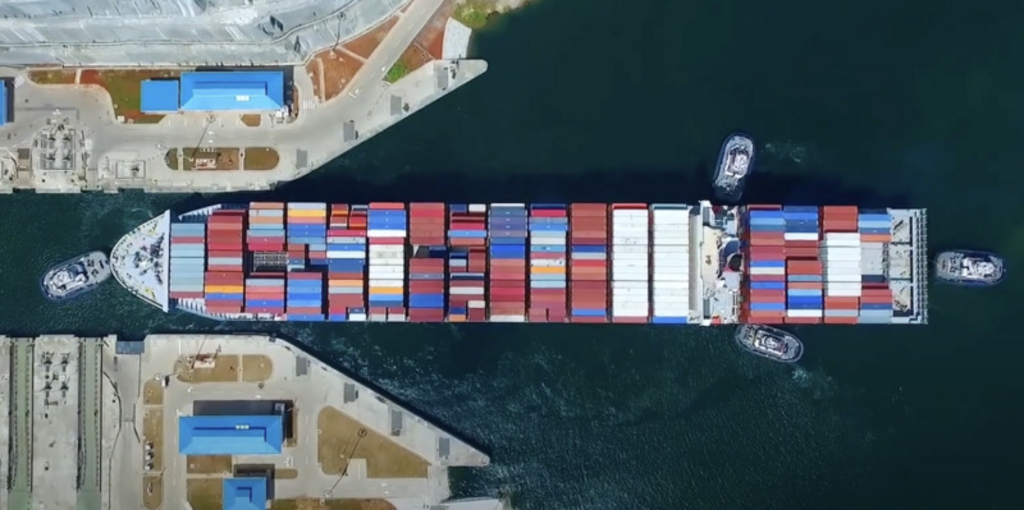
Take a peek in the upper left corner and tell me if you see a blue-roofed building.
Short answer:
Yes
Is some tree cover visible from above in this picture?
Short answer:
No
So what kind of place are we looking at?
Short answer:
port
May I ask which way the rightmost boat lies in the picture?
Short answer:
from side to side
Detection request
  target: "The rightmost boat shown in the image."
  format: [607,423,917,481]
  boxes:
[934,251,1007,285]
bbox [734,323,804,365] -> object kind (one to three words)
boat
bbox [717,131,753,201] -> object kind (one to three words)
boat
